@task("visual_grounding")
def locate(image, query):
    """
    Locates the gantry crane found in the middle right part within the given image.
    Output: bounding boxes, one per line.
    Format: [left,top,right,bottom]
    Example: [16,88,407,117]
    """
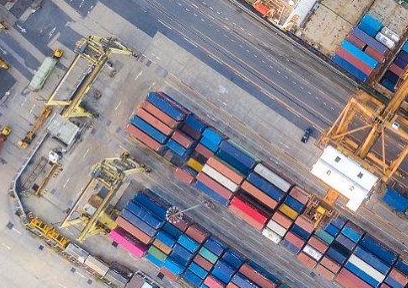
[300,60,408,231]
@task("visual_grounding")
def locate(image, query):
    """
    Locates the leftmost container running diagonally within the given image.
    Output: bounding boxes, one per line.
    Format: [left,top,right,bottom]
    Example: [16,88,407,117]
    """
[30,53,62,89]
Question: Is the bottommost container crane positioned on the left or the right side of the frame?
left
